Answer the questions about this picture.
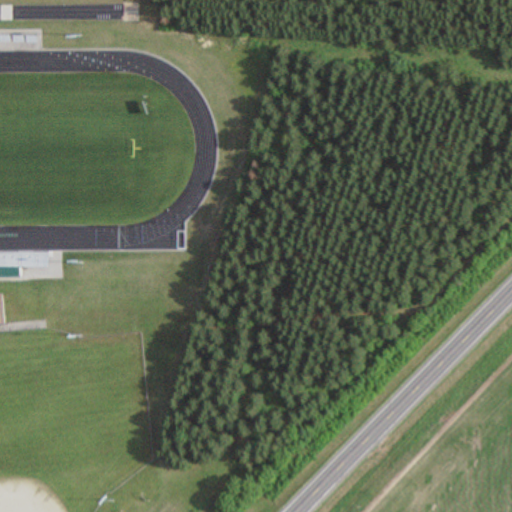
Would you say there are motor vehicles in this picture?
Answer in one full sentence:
No, there is no motor vehicle in the image.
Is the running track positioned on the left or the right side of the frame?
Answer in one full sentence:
The running track sits on the left side.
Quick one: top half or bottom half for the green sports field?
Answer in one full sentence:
You can find the green sports field in the top half.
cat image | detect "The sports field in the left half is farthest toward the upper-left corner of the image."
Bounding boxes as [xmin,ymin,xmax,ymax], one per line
[0,74,194,224]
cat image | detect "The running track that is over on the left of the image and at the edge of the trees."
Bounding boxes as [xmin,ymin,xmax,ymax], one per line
[0,50,218,250]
